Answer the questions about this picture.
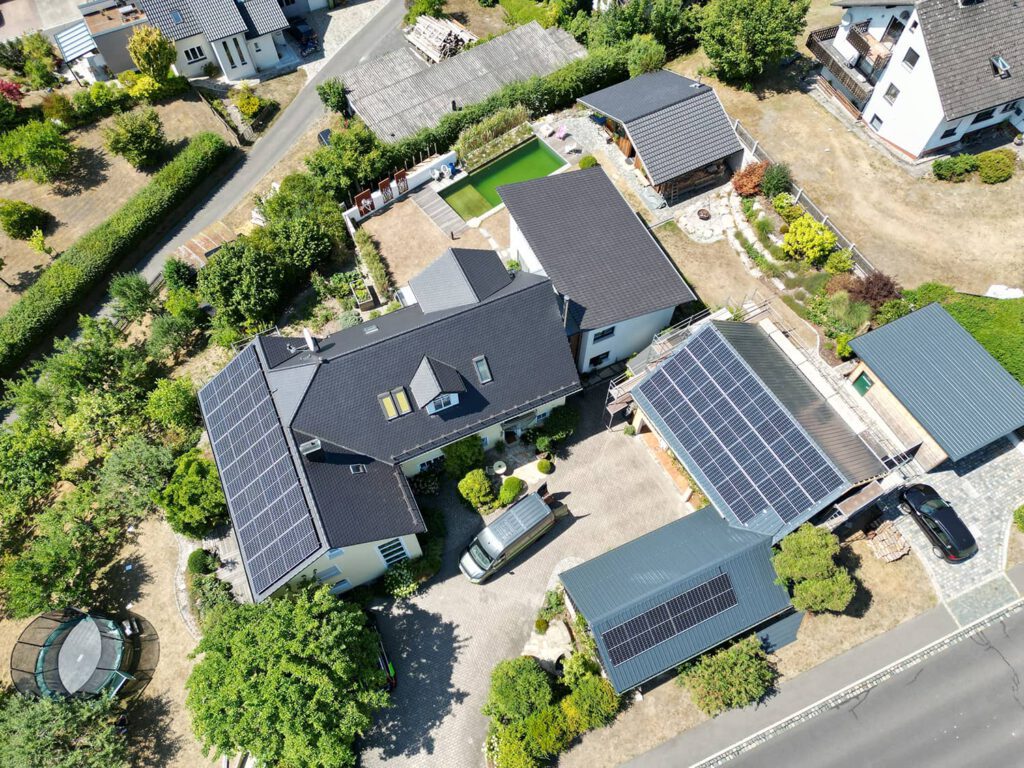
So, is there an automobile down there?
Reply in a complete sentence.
Yes, there is an automobile in the image.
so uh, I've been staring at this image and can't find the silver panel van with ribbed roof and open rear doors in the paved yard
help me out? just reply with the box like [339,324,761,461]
[458,477,573,590]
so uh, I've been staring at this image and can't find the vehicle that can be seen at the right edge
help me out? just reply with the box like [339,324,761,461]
[902,482,981,563]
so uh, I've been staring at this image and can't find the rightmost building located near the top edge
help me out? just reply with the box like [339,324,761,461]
[810,0,1024,160]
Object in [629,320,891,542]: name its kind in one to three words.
barn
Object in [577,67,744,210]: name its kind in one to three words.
barn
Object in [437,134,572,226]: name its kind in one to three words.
swimming pool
